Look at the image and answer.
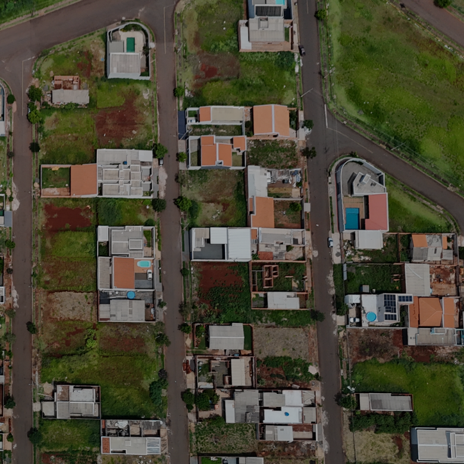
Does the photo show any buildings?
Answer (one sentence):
Yes, the image includes a building.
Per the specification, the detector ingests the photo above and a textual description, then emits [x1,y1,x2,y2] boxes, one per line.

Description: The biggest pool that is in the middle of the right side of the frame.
[346,207,360,230]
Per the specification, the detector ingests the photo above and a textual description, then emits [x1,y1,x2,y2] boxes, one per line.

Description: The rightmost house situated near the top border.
[236,0,293,56]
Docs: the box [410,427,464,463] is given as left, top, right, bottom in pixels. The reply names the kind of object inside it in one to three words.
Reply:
house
